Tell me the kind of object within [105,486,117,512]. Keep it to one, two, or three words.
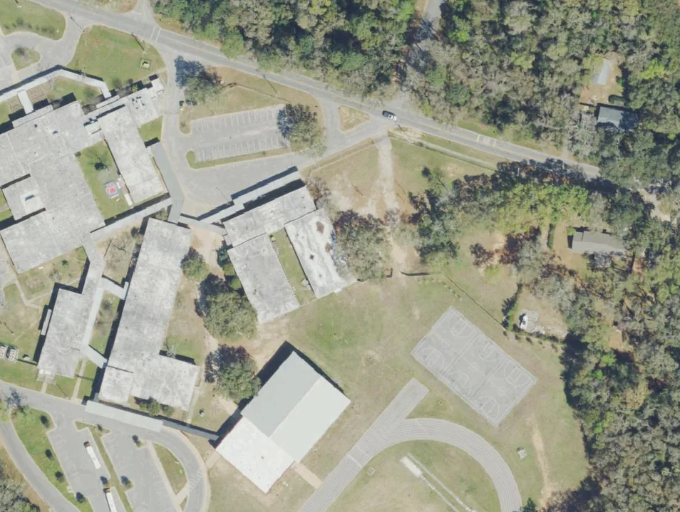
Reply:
vehicle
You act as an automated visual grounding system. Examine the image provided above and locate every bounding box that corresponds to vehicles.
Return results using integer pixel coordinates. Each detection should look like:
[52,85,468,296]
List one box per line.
[86,442,100,468]
[522,313,528,328]
[105,486,117,512]
[383,112,397,120]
